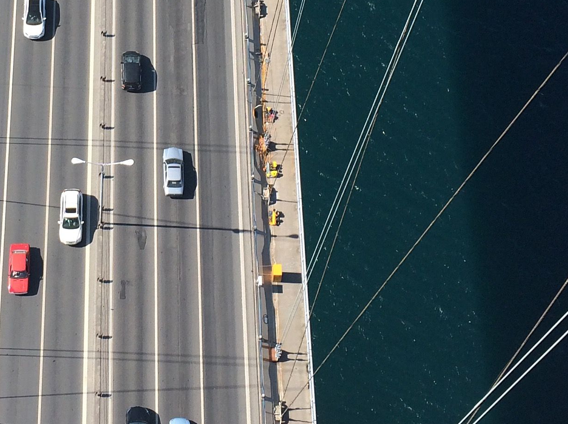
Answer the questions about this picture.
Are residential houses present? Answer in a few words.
No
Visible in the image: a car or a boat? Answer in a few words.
car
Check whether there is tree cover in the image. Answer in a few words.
No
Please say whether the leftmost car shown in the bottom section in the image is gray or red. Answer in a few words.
red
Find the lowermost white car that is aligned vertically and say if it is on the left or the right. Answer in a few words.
left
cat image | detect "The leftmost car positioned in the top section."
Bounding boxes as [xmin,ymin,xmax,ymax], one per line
[21,0,47,41]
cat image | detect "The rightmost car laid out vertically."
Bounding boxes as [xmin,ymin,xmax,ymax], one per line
[162,148,186,201]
